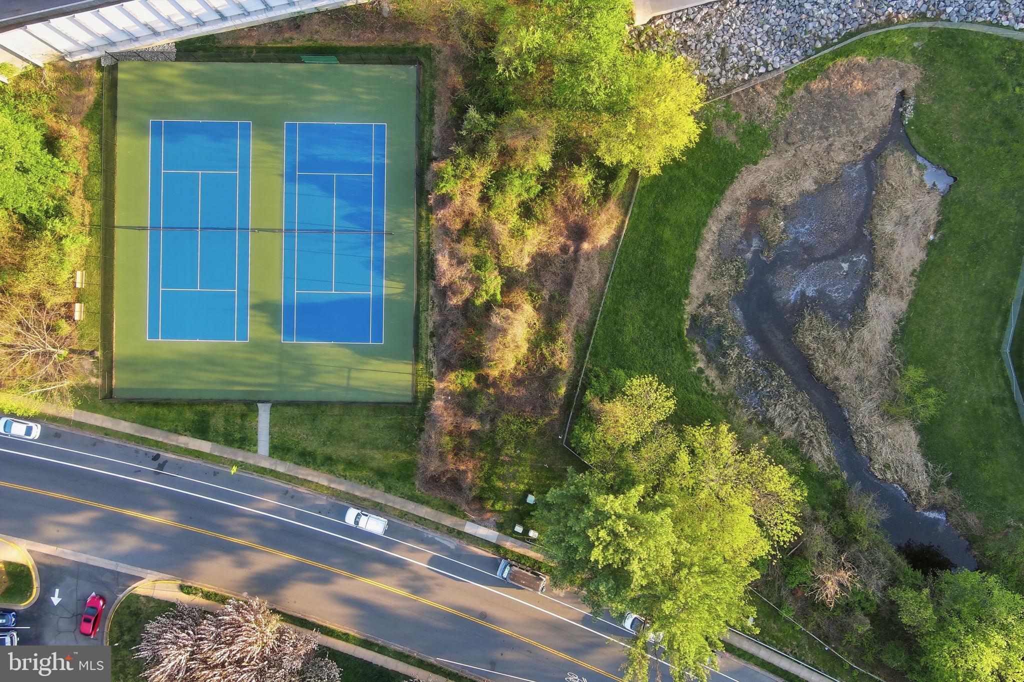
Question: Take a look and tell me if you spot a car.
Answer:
Yes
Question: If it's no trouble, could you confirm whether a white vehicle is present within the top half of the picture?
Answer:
No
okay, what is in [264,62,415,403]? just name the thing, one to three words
tennis court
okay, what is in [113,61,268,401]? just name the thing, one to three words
tennis court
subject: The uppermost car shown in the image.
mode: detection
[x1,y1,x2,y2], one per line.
[0,416,45,441]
